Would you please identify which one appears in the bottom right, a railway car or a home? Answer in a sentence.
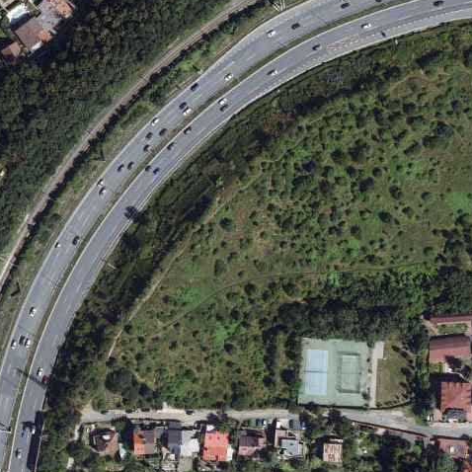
You can see a home in the bottom right.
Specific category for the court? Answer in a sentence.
What you see as the court is a tennis court.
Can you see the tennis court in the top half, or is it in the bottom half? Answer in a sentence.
The tennis court is in the bottom half of the image.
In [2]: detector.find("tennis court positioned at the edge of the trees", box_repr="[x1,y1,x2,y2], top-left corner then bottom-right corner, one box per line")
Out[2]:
[298,337,369,408]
